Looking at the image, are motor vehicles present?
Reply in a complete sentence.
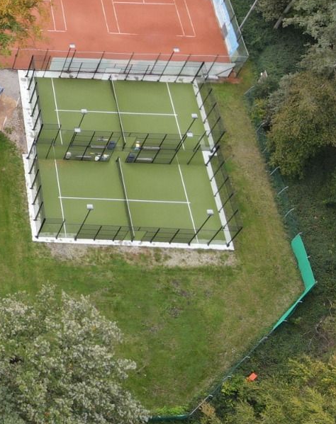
No, the photo shows no motor vehicle.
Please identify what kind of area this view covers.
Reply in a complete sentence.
This image shows a sports ground.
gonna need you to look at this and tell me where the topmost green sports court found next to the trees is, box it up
[27,43,225,149]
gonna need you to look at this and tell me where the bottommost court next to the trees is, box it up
[27,125,243,242]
